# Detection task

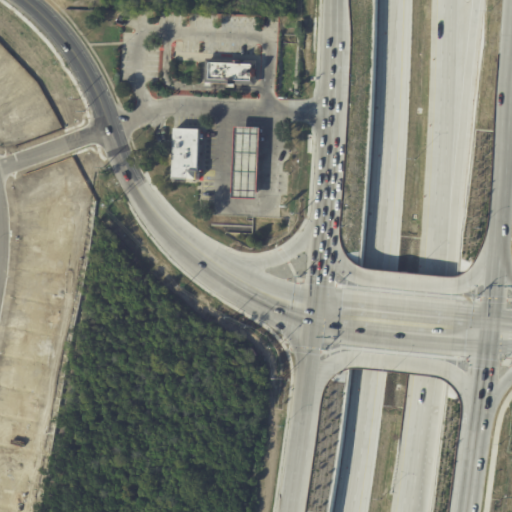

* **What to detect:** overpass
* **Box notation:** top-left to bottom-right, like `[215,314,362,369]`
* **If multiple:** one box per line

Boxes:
[320,229,512,410]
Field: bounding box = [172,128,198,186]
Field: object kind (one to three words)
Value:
building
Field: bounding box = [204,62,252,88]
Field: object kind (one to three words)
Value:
building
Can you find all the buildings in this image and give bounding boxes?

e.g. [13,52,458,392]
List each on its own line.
[204,62,252,88]
[172,128,198,186]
